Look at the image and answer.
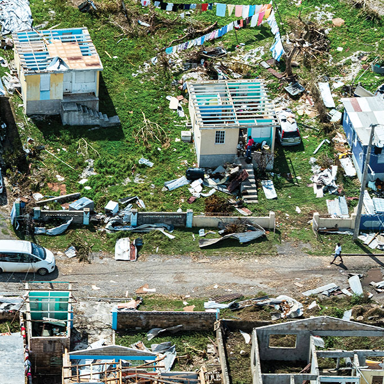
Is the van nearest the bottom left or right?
left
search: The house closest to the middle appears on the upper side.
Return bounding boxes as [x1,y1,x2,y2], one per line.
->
[191,77,282,203]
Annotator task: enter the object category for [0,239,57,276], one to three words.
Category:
van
